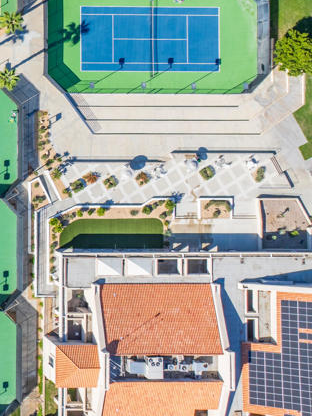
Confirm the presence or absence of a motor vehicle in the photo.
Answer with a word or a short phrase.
No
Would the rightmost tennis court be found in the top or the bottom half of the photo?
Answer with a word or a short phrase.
top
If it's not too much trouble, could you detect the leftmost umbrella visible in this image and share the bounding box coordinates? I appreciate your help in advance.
[117,166,134,182]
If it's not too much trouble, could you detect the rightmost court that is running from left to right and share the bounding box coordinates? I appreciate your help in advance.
[44,0,257,92]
